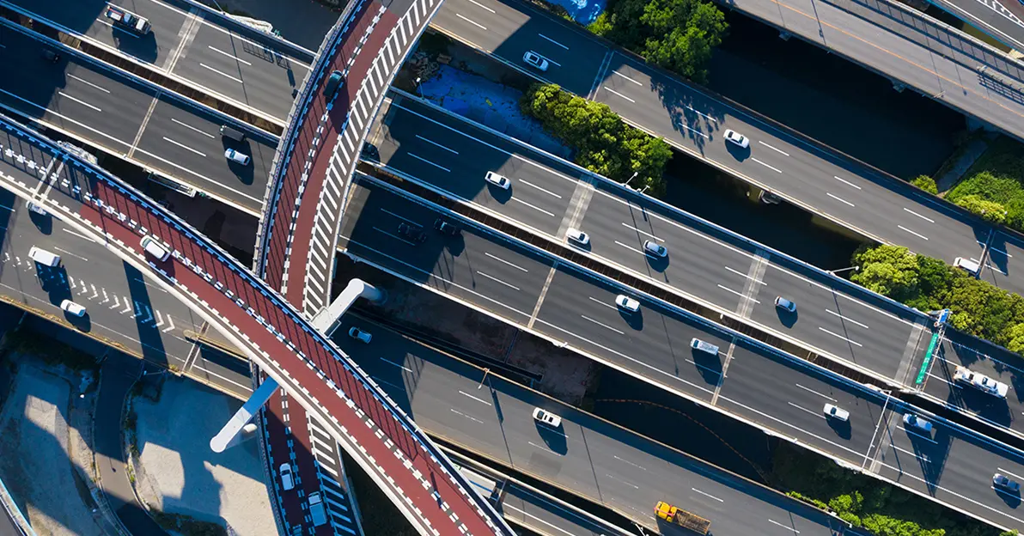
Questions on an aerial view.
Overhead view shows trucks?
Yes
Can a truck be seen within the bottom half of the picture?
Yes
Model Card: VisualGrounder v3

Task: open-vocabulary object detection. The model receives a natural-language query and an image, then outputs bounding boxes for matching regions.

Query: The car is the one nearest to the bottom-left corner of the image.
[60,299,87,317]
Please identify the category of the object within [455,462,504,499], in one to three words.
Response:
truck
